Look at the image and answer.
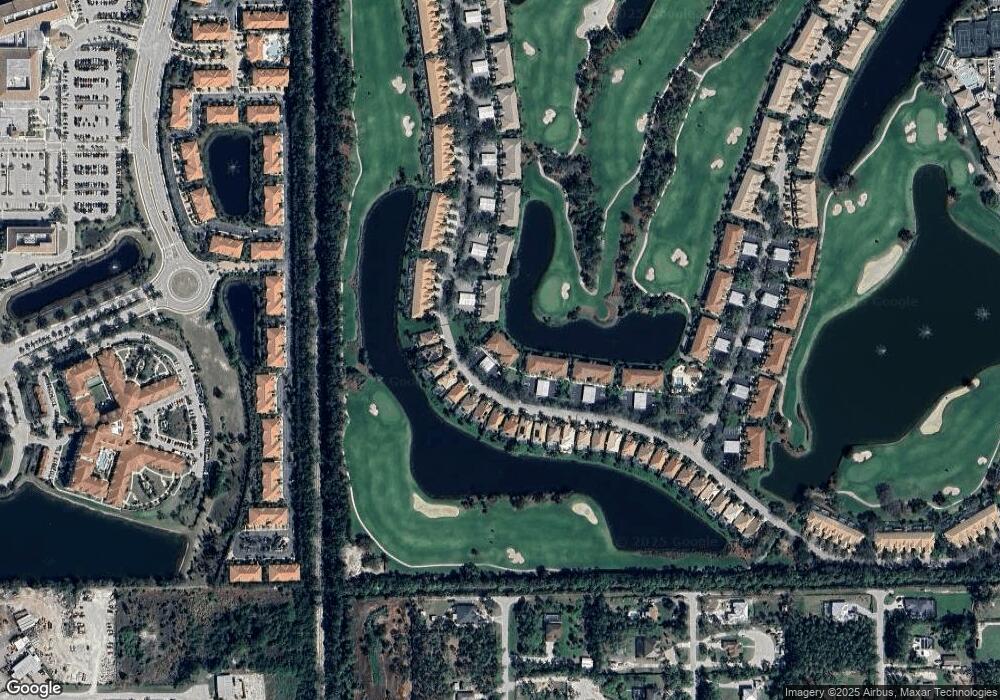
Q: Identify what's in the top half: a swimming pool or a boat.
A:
swimming pool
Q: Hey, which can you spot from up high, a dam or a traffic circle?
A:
traffic circle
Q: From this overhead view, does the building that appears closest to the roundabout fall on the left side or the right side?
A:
left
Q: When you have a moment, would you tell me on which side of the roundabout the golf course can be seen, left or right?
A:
to the right of it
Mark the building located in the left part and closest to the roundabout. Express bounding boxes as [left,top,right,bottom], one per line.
[208,235,244,259]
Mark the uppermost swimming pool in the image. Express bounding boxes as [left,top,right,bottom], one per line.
[263,31,289,62]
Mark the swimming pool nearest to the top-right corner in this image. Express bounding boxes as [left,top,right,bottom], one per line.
[956,62,987,90]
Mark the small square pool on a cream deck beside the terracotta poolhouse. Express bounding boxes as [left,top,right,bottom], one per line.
[672,366,703,391]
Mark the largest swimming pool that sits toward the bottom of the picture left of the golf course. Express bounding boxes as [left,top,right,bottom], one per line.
[94,450,117,480]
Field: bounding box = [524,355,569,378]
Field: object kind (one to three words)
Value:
building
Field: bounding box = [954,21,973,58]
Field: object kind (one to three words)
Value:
tennis court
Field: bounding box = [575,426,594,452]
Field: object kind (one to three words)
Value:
house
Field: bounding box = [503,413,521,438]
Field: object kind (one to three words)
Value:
house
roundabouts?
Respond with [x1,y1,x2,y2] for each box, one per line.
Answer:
[156,257,214,311]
